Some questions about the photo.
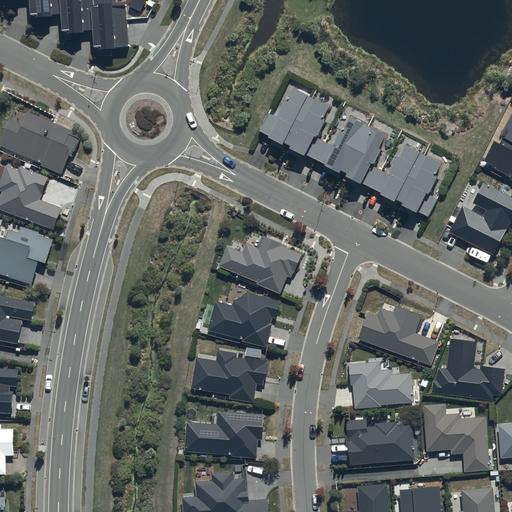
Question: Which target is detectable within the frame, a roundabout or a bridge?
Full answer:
There is a roundabout in the scene.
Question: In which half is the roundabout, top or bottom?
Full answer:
You can find the roundabout in the top half.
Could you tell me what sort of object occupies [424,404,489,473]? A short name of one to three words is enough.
house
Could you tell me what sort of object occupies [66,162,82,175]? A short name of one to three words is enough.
vehicle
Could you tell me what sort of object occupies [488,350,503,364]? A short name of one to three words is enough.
car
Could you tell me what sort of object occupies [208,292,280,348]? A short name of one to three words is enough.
house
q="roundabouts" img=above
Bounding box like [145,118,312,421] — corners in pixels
[102,75,190,163]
